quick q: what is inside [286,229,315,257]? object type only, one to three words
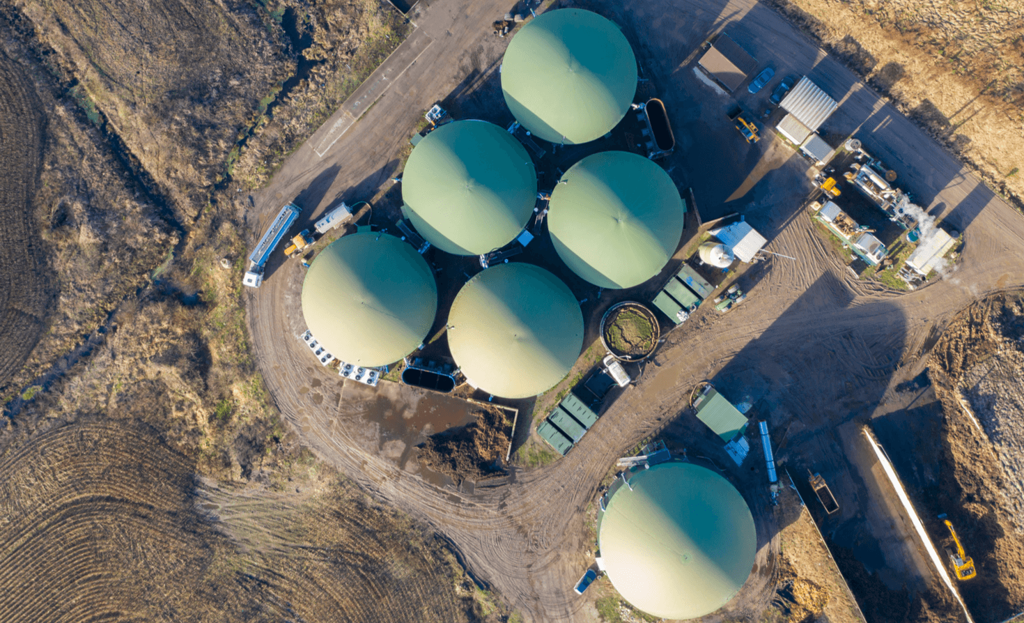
work vehicle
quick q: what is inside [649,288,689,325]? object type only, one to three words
shipping container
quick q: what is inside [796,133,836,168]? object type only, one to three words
building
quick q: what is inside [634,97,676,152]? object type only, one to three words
storage tank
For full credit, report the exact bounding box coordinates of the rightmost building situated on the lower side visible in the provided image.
[679,377,748,443]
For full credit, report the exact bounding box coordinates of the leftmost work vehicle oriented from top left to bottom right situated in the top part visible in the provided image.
[723,105,762,145]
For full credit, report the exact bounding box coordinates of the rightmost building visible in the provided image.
[897,228,956,277]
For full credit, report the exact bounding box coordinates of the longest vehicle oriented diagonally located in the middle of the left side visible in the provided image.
[235,201,307,292]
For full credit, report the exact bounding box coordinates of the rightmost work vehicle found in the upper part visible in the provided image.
[811,173,839,201]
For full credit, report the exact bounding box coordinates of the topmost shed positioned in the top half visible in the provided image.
[697,33,758,92]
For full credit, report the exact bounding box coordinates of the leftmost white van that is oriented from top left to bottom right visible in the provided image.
[602,354,630,387]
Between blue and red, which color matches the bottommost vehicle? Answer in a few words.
blue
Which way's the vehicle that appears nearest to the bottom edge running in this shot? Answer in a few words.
diagonally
